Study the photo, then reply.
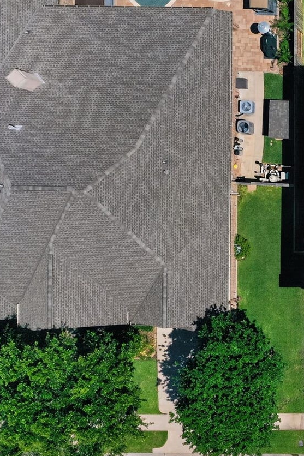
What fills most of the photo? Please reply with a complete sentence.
The bulk of the photo consists of buildings.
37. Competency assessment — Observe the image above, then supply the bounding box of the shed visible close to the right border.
[268,99,294,144]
